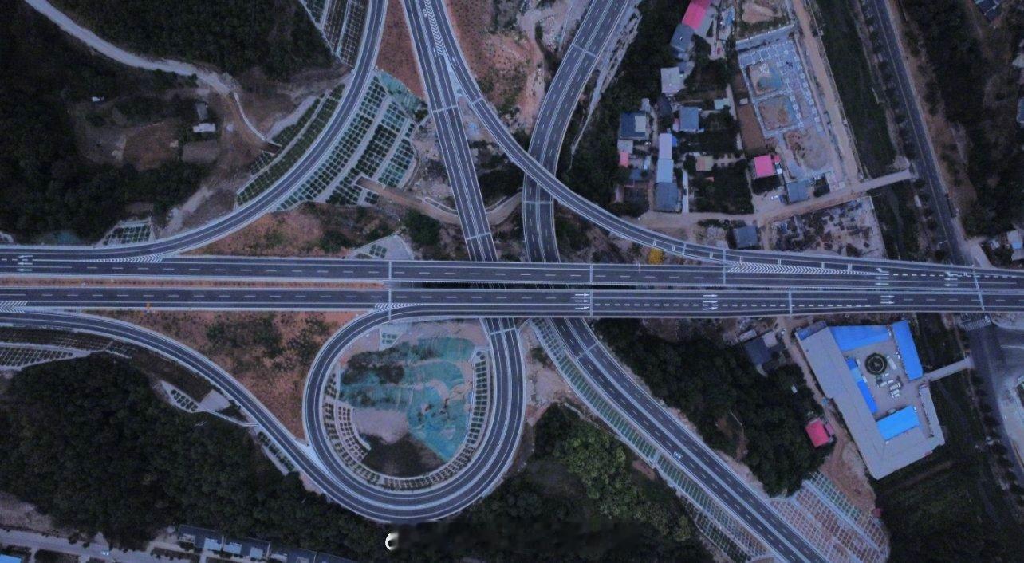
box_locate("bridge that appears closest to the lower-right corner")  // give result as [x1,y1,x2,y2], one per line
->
[919,355,978,381]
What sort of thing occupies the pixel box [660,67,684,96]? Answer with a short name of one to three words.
house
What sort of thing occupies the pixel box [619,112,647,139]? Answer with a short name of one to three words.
house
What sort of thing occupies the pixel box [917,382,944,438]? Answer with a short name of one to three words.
building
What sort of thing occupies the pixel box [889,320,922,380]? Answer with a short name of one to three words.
shed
